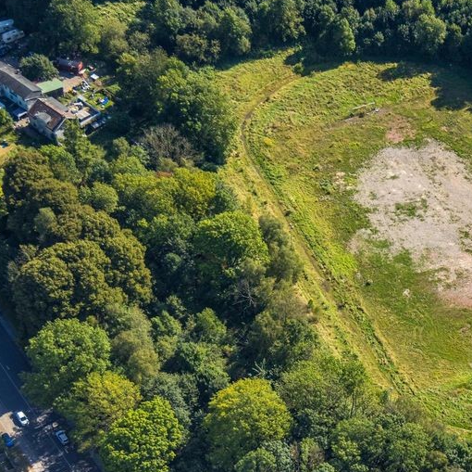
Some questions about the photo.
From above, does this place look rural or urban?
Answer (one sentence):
The land in this view is best described as rural.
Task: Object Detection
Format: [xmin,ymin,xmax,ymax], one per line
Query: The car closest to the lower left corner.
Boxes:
[1,431,15,448]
